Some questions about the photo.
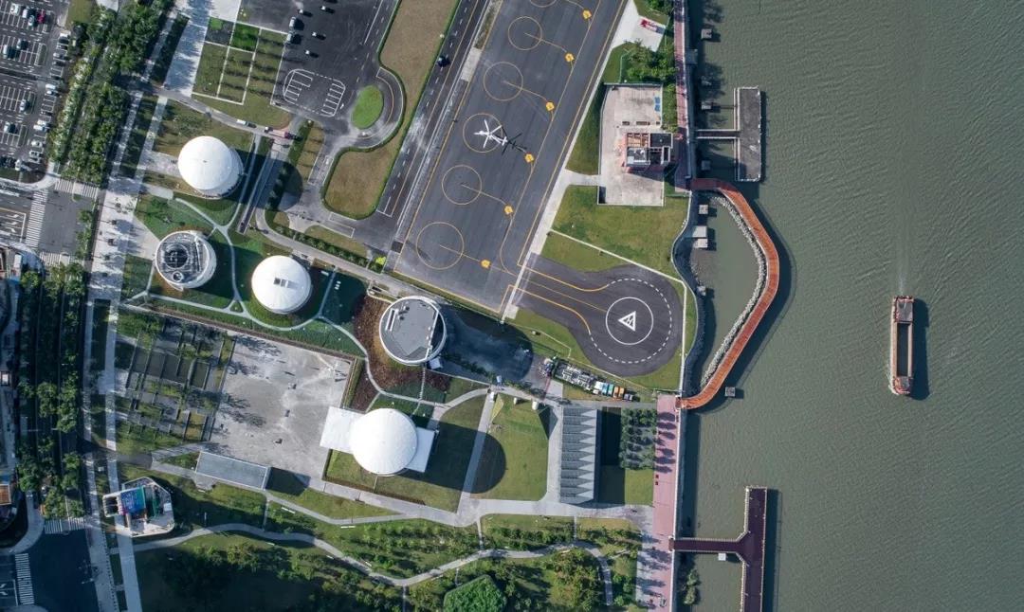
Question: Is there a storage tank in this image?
Yes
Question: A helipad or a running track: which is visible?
helipad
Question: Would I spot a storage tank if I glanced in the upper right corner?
No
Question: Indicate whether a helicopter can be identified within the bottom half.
No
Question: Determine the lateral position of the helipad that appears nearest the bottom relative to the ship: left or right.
to the left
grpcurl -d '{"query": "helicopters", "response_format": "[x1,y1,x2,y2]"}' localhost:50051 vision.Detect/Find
[474,120,508,150]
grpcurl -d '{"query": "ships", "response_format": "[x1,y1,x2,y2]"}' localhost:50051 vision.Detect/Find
[890,296,915,394]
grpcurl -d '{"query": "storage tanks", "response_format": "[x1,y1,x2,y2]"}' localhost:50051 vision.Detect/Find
[155,230,219,292]
[378,296,451,365]
[320,401,435,477]
[252,254,317,313]
[177,135,245,197]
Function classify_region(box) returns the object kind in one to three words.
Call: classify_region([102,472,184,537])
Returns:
building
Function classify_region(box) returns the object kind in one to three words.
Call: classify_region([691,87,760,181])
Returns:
pier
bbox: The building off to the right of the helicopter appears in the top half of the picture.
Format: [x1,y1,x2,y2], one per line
[621,132,683,172]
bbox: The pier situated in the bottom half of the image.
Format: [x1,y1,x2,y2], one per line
[676,487,767,612]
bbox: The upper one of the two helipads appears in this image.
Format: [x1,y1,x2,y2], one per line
[395,0,626,314]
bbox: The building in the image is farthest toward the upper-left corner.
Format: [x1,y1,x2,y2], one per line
[0,248,33,276]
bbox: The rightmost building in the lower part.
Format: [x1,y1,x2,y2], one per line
[559,406,601,504]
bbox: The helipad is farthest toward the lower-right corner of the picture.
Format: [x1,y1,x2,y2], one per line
[508,254,684,376]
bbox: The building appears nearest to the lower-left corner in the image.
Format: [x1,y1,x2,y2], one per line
[0,468,36,543]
